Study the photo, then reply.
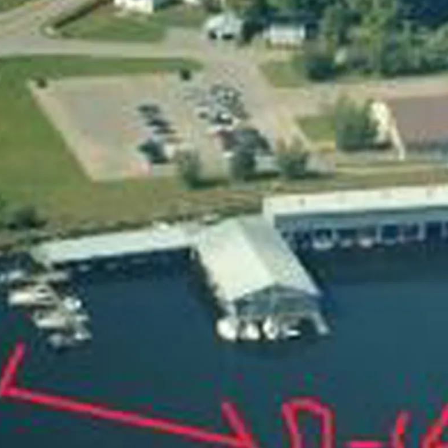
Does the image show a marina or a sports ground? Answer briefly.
marina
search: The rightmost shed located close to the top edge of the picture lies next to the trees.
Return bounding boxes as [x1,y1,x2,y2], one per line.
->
[266,22,305,47]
